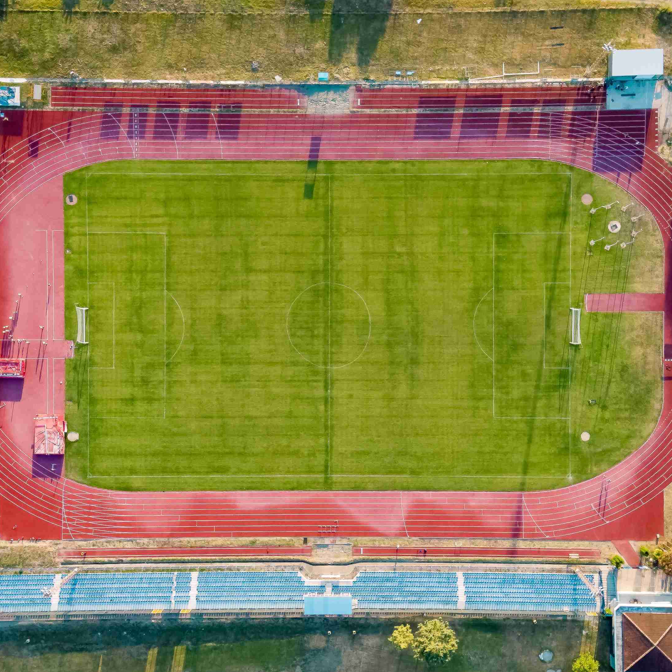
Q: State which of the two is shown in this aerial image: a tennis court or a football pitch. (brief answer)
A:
football pitch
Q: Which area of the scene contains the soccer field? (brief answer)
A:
center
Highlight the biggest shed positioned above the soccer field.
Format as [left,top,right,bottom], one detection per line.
[606,49,664,80]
